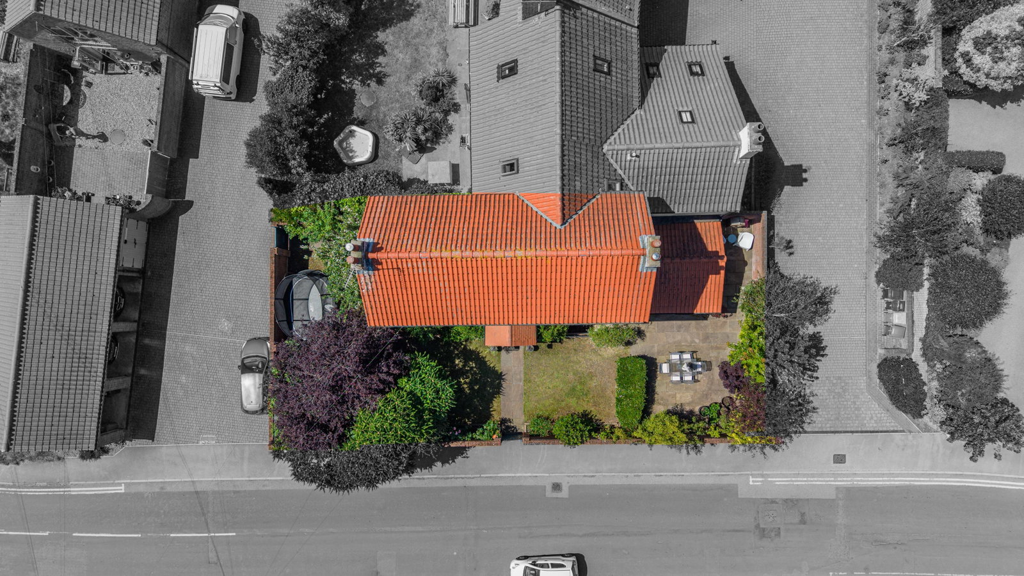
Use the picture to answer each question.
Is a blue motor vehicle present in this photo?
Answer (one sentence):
No, no blue motor vehicle is visible in the view.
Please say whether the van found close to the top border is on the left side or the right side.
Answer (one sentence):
The van found close to the top border appears in the left half of the scene.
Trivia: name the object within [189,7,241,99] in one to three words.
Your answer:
van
